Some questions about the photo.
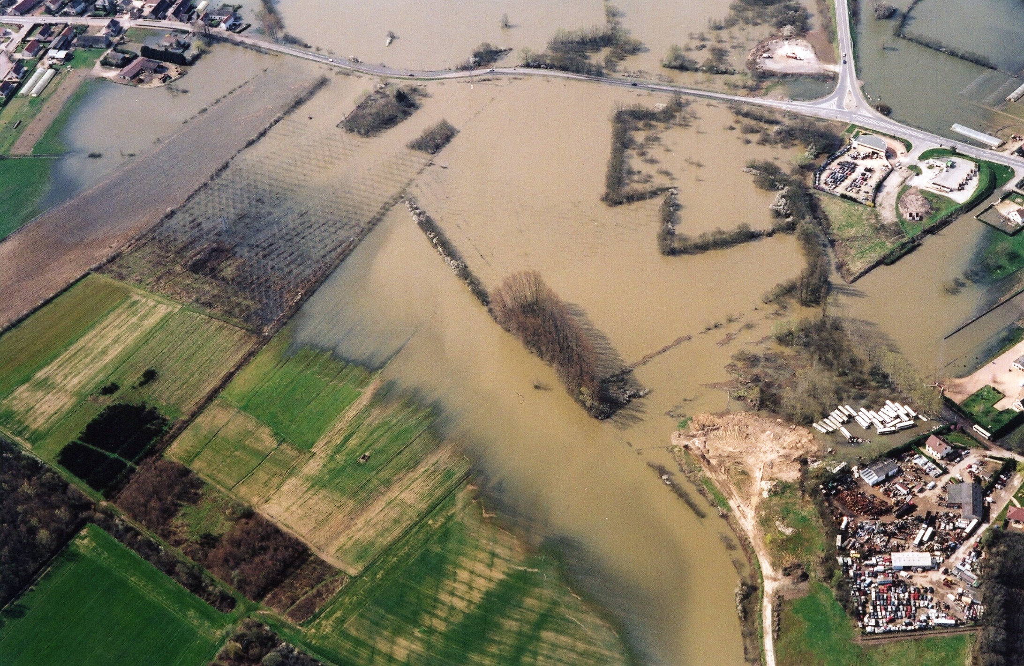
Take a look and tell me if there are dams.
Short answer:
No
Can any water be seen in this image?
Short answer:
Yes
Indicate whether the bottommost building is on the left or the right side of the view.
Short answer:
right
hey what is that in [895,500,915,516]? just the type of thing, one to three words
vehicle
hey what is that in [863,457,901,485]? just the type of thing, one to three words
building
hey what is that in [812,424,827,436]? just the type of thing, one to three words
vehicle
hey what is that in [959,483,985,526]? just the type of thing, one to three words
hangar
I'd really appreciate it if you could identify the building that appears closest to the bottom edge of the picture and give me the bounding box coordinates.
[887,549,935,573]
